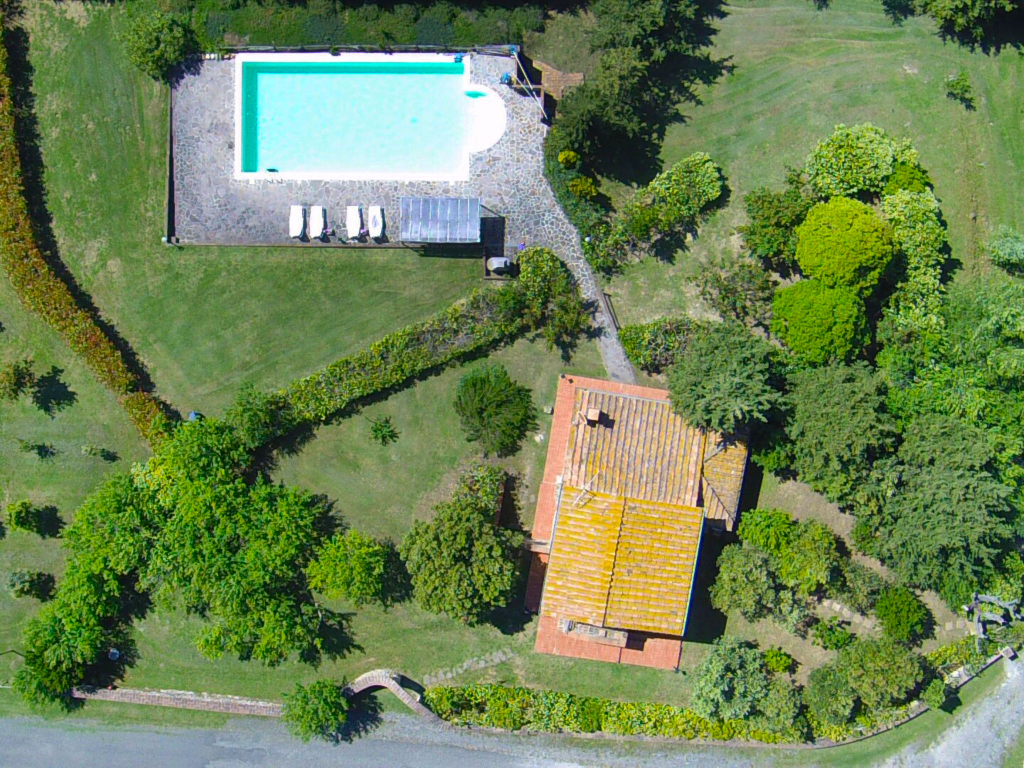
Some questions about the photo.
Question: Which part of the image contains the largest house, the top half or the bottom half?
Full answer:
It is in the bottom half that the largest house appears.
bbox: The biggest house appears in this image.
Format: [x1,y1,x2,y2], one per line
[538,387,754,636]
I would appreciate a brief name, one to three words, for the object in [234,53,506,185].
swimming pool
